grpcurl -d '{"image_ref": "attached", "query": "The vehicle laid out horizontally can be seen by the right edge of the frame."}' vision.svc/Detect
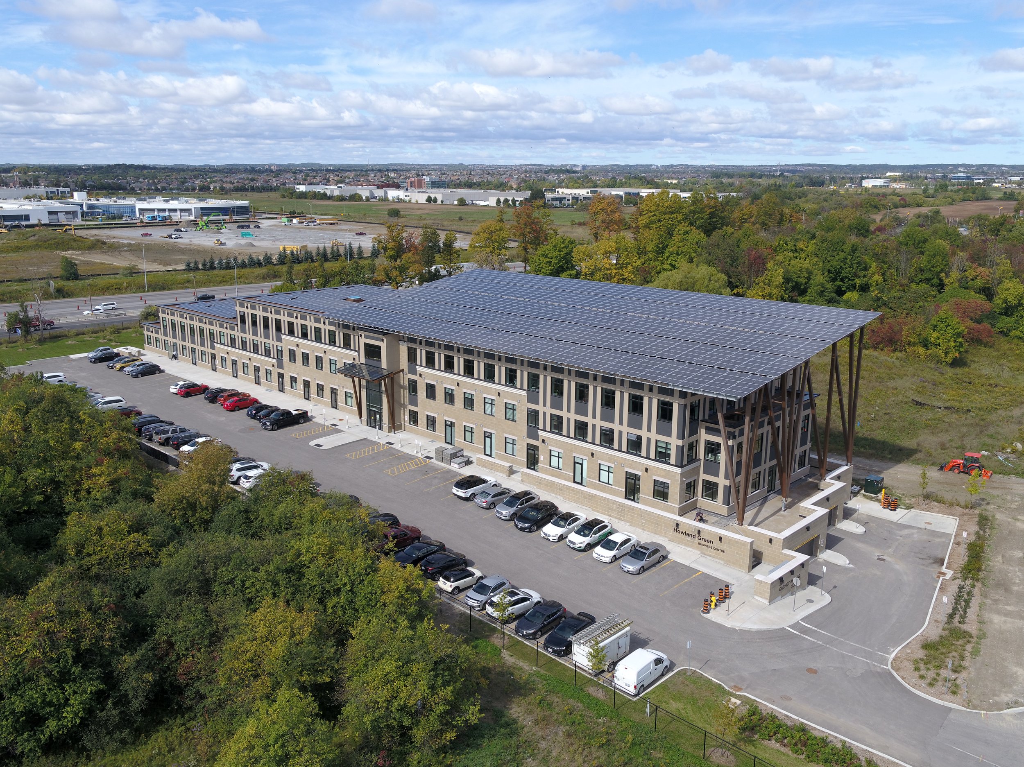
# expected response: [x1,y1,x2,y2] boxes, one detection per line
[937,452,991,478]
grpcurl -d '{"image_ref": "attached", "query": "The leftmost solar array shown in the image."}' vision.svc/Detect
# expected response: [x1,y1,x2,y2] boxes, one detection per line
[175,299,237,319]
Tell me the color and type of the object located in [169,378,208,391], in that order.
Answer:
white vehicle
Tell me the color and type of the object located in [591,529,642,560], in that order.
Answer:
white car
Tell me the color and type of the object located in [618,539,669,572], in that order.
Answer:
gray car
